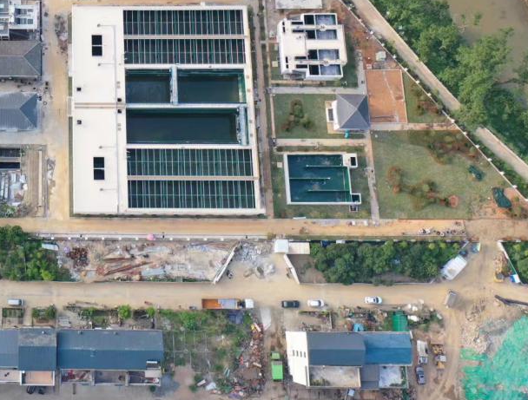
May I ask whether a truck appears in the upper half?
No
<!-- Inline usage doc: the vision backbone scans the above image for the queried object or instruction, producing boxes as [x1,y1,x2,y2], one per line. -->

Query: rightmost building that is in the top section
[326,95,370,134]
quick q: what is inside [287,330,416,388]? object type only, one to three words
house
